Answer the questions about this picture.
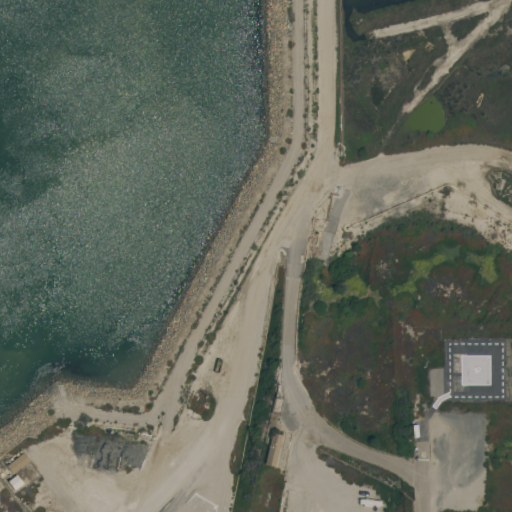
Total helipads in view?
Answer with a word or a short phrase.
1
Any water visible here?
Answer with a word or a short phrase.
Yes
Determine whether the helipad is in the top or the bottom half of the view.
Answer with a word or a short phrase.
bottom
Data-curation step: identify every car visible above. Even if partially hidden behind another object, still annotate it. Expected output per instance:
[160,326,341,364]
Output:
[6,456,15,464]
[359,491,369,496]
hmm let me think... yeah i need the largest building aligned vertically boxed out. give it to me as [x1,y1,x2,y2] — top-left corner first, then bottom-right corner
[266,434,284,468]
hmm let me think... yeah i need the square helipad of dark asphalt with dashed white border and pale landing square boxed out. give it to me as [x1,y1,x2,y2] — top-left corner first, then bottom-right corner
[444,340,506,400]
